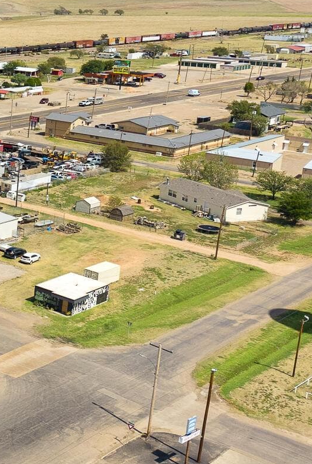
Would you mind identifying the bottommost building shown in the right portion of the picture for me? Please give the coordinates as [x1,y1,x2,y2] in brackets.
[158,178,271,222]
